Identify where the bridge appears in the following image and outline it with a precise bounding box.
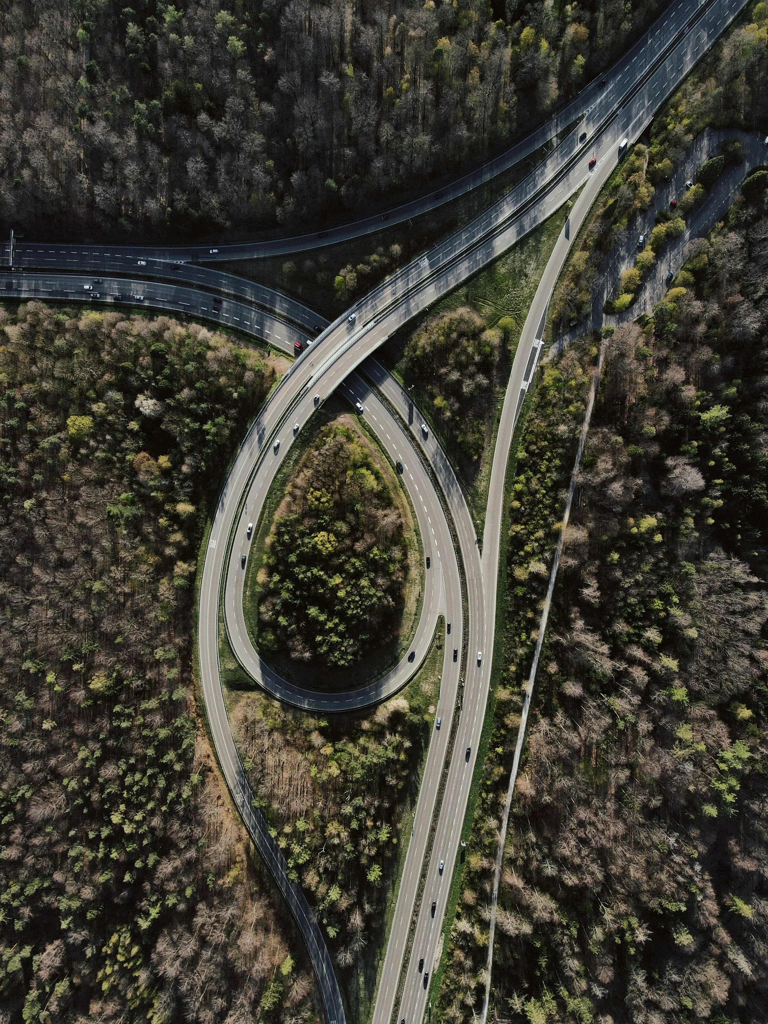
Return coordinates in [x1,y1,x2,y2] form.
[265,286,402,411]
